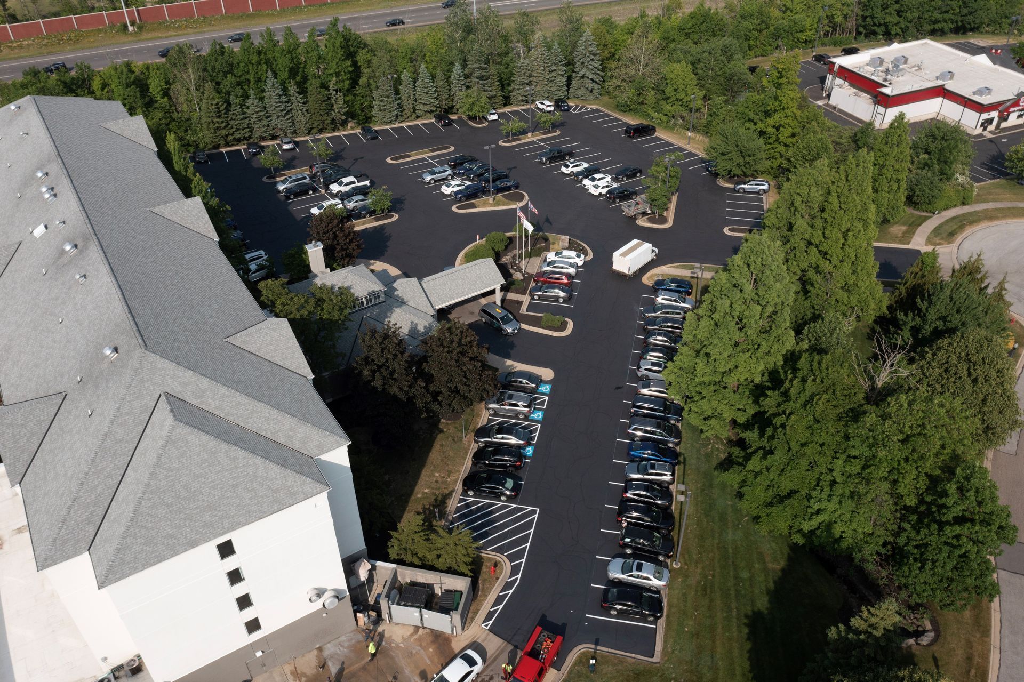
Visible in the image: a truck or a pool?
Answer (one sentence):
The image shows a truck.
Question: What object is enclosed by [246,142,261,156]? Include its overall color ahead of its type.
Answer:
black car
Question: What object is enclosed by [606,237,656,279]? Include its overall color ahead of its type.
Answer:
white truck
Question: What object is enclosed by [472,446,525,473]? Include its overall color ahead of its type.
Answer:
black car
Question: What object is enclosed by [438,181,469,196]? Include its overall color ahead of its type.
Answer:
white car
